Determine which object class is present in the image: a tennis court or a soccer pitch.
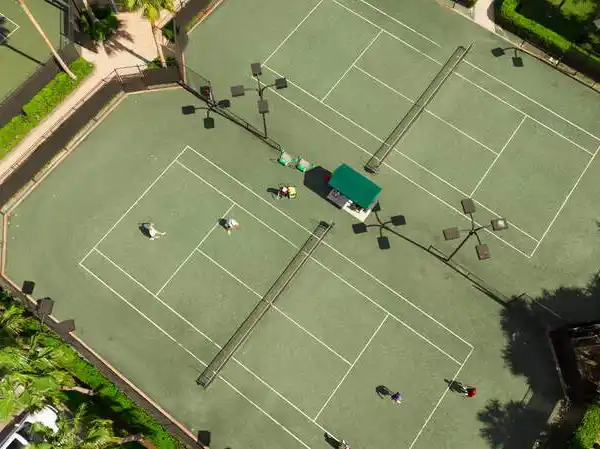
tennis court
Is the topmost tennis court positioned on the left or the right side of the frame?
left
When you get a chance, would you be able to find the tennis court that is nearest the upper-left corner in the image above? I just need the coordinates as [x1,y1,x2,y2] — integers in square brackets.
[0,0,78,98]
